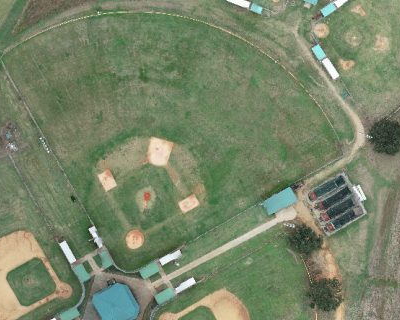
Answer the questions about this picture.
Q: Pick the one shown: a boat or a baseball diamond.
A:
baseball diamond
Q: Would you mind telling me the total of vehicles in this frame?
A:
0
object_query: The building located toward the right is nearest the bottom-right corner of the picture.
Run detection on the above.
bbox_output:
[263,187,297,216]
